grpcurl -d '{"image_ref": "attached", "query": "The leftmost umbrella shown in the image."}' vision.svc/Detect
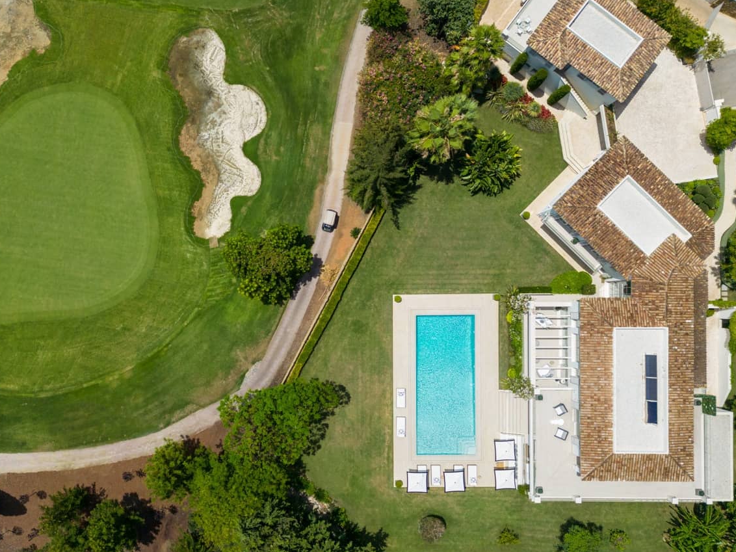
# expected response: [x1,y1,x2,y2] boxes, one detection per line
[406,471,428,493]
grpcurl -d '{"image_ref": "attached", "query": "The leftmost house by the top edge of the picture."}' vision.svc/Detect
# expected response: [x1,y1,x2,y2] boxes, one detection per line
[492,0,673,110]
